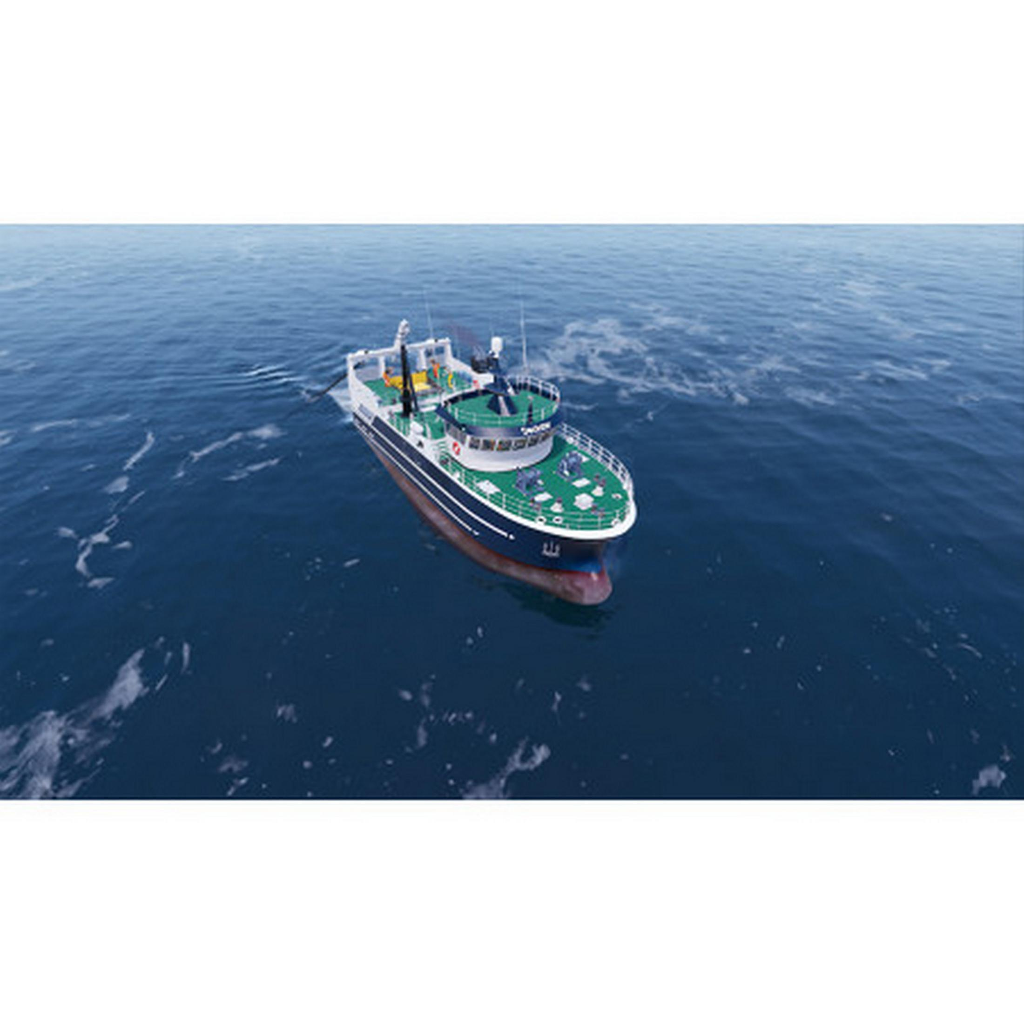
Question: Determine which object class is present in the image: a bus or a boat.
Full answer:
It is a boat that can be seen here.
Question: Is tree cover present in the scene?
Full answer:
No, there's no tree cover in this view.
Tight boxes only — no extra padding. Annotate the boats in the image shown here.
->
[346,293,640,603]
